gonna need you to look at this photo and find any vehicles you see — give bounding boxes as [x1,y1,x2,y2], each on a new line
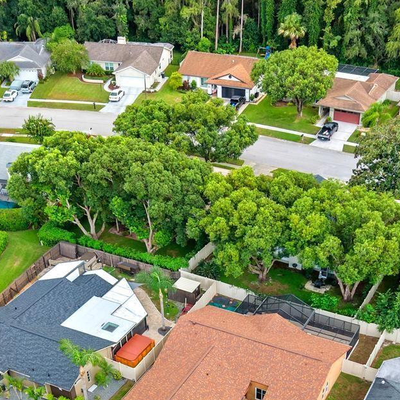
[109,91,122,102]
[9,82,22,92]
[229,93,244,108]
[2,92,15,102]
[318,121,337,138]
[20,80,34,93]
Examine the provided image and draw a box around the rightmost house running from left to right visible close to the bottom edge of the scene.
[123,305,353,400]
